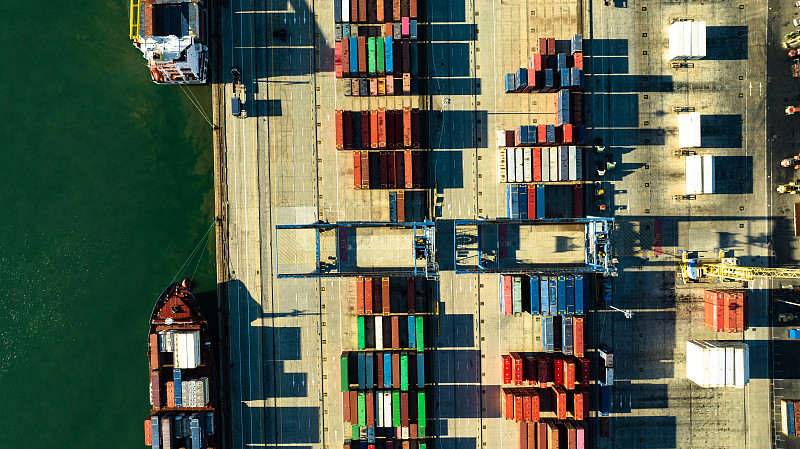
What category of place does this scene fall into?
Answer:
port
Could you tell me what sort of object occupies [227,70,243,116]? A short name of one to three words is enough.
vehicle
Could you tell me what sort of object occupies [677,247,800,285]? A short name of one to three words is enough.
crane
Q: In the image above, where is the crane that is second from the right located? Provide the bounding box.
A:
[451,210,622,281]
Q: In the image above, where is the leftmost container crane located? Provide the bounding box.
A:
[277,213,447,284]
